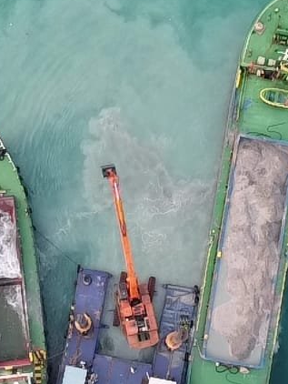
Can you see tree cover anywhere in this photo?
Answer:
No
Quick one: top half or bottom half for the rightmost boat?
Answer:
top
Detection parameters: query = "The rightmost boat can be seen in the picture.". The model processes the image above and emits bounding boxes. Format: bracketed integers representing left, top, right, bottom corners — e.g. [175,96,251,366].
[259,86,288,109]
